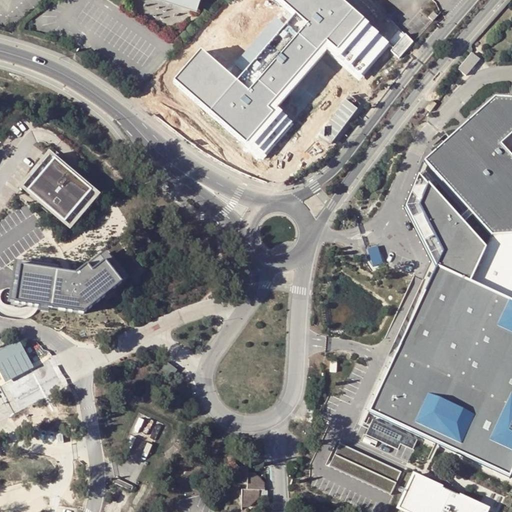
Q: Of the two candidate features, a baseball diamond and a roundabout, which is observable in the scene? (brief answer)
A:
roundabout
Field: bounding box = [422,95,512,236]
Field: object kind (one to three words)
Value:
building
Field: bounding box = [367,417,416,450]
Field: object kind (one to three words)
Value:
building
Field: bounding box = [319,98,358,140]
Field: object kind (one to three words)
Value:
shed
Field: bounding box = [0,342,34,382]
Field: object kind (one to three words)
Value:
house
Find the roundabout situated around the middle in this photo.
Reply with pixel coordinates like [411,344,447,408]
[240,194,317,272]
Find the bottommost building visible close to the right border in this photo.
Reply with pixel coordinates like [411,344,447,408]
[394,472,490,512]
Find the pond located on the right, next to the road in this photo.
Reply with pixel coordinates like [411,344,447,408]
[326,271,384,334]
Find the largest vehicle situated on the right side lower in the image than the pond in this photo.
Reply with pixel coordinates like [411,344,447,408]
[362,436,380,448]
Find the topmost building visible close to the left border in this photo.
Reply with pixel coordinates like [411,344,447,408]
[22,150,100,229]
